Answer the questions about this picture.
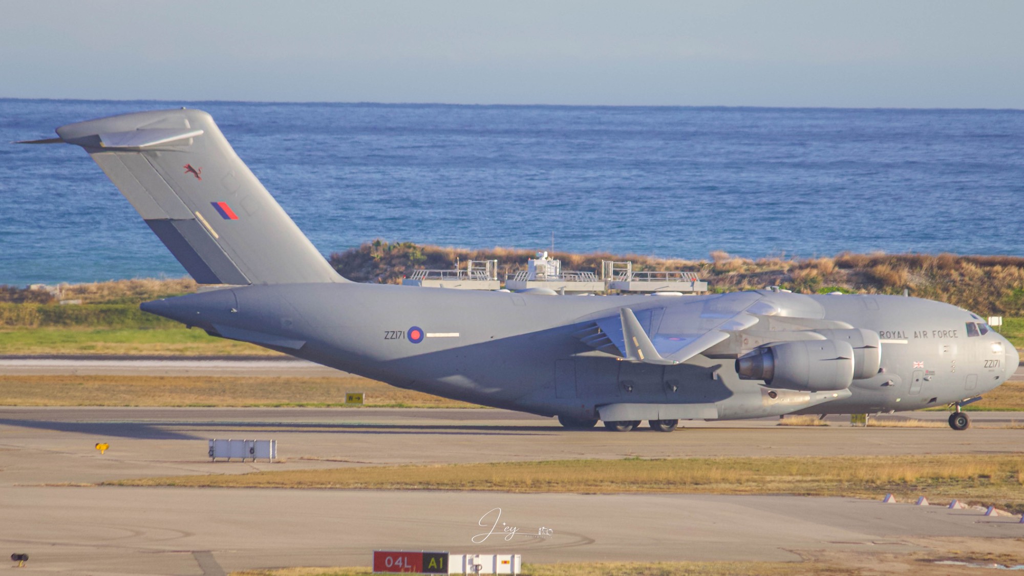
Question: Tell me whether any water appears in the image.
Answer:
Yes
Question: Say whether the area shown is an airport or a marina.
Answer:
airport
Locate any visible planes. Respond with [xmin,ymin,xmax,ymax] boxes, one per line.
[27,106,1017,429]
